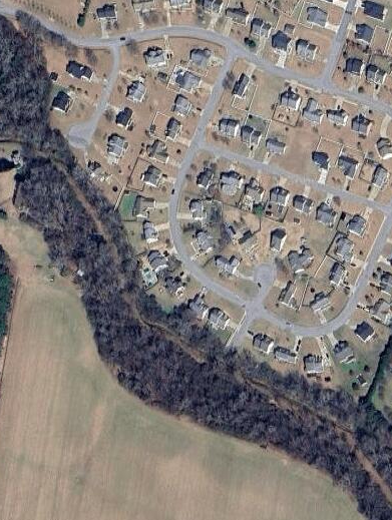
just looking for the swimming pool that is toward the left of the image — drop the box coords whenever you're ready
[141,270,157,287]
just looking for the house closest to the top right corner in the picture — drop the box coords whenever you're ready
[361,0,385,20]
